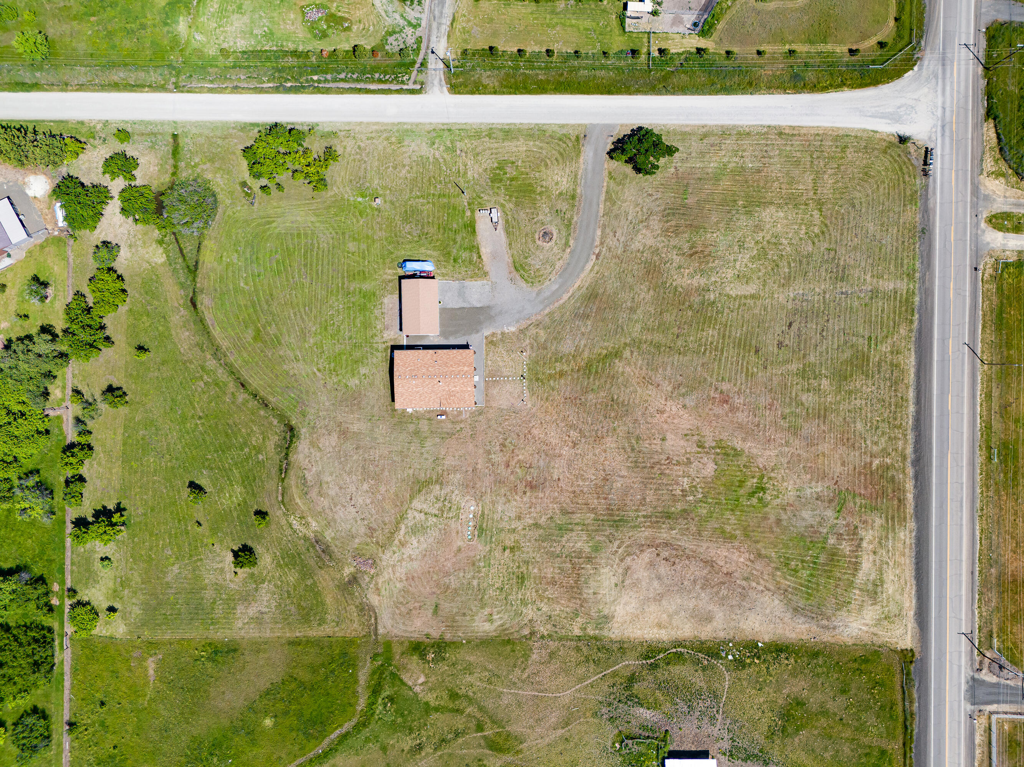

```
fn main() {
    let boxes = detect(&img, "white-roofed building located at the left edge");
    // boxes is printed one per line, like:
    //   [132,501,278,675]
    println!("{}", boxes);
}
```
[0,197,34,256]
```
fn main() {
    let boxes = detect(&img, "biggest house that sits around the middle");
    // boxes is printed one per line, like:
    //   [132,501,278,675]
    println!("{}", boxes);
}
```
[394,349,475,410]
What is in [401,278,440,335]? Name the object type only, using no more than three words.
building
